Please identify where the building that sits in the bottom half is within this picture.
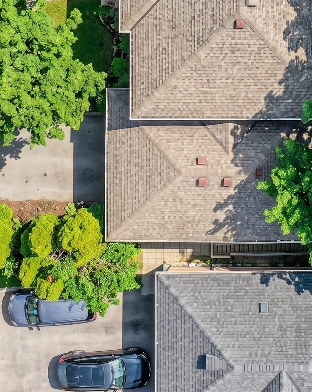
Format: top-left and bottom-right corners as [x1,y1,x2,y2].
[154,263,312,392]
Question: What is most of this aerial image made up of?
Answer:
buildings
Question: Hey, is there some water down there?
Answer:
No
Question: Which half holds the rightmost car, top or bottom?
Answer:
bottom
